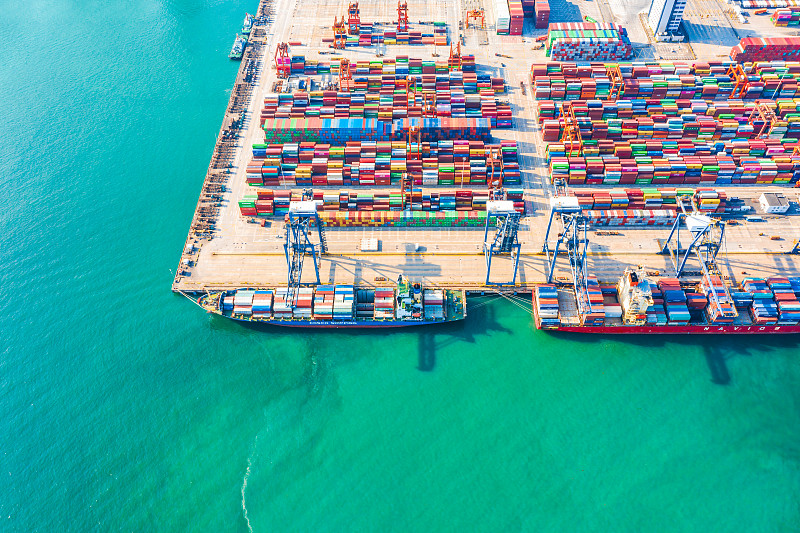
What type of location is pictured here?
port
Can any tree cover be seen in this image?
No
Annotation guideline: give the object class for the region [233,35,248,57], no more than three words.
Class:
boat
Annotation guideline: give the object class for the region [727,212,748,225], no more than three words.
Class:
vehicle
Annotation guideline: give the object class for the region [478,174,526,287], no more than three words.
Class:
container crane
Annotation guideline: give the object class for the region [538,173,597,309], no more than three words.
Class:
container crane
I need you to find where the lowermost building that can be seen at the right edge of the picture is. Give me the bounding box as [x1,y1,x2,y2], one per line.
[761,193,798,214]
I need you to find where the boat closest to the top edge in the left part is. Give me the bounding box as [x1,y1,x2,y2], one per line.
[241,13,254,35]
